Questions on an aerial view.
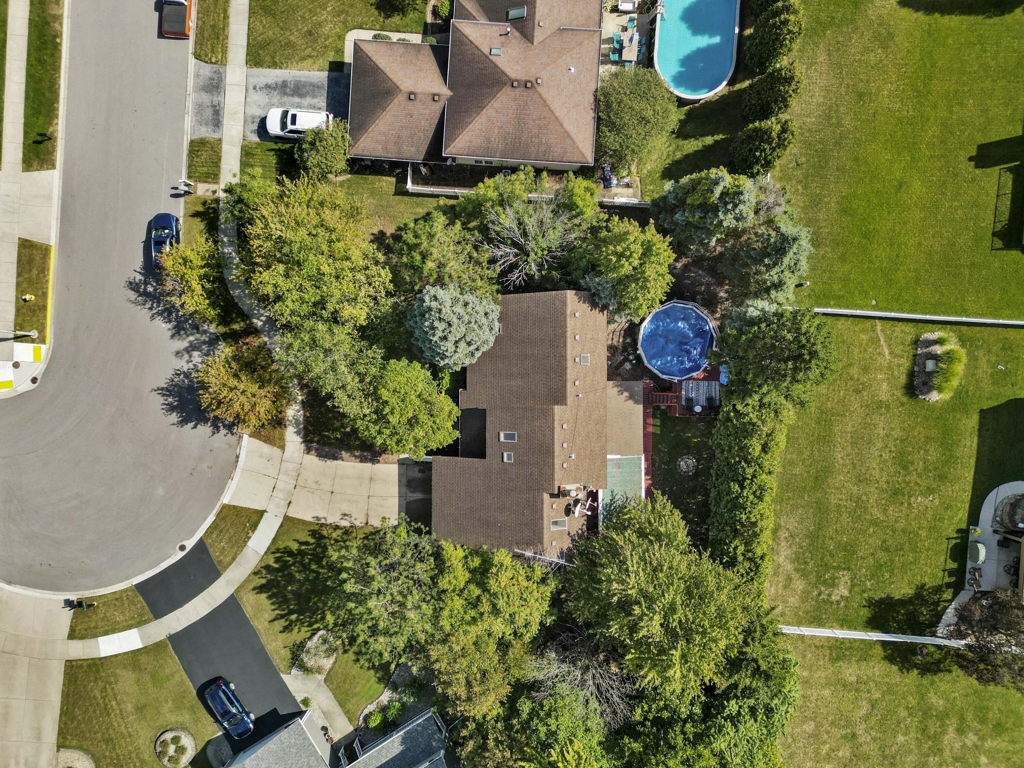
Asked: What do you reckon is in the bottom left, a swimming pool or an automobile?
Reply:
automobile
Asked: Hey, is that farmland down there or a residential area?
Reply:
residential area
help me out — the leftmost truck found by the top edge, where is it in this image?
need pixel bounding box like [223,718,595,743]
[162,0,193,40]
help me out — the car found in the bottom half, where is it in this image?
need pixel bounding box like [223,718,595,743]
[204,676,257,739]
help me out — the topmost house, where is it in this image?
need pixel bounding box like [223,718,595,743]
[346,0,605,173]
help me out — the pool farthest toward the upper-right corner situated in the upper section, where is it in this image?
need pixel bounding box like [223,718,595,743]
[648,0,741,106]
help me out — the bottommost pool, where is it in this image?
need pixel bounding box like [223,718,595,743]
[634,300,717,382]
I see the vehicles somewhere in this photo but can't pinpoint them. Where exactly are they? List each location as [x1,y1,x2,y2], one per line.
[204,676,257,739]
[149,214,183,277]
[162,0,193,40]
[267,103,335,138]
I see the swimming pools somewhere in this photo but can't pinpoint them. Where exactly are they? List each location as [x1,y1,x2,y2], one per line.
[648,0,741,106]
[634,300,717,382]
